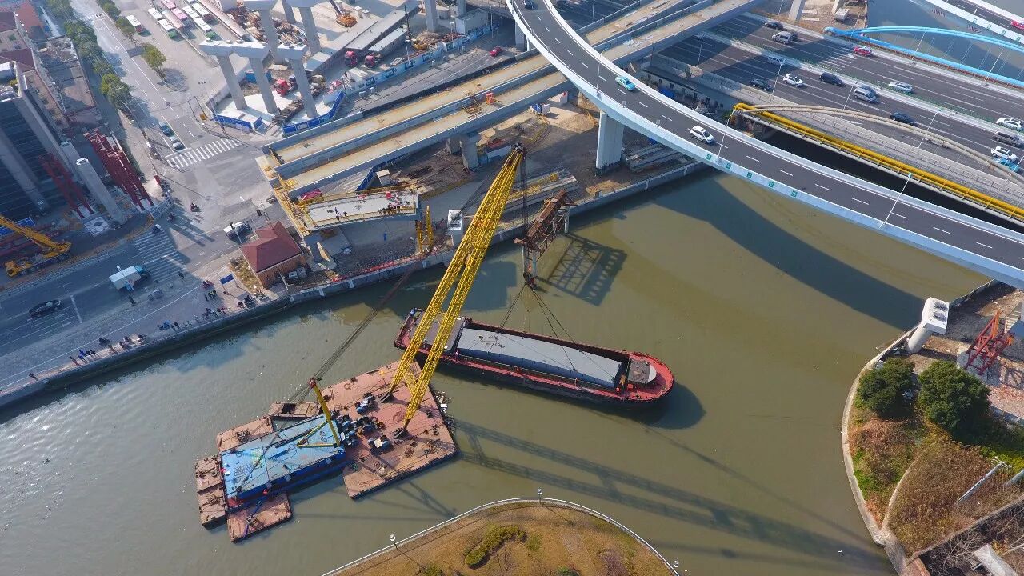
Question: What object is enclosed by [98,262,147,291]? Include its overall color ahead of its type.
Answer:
blue truck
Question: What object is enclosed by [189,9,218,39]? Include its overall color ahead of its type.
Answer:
white bus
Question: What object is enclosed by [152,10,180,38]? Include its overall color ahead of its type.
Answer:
white bus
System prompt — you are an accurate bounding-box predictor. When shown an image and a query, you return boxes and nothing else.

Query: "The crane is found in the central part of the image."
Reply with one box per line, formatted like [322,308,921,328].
[245,139,579,486]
